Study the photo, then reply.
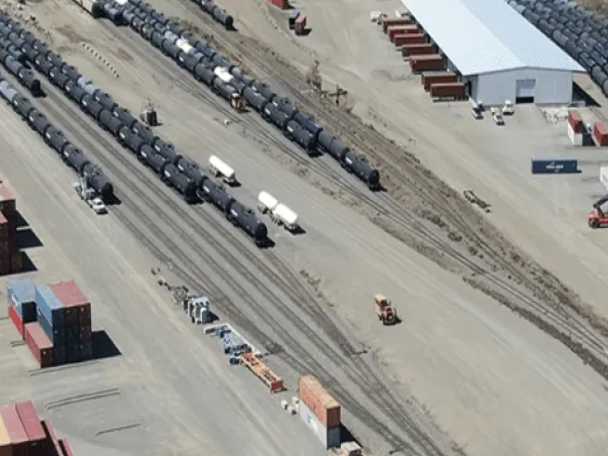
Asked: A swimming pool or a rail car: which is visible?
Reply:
rail car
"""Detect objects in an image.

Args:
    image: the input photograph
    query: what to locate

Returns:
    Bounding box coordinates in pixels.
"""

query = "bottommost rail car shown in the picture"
[231,206,268,249]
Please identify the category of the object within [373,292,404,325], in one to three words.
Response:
work vehicle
